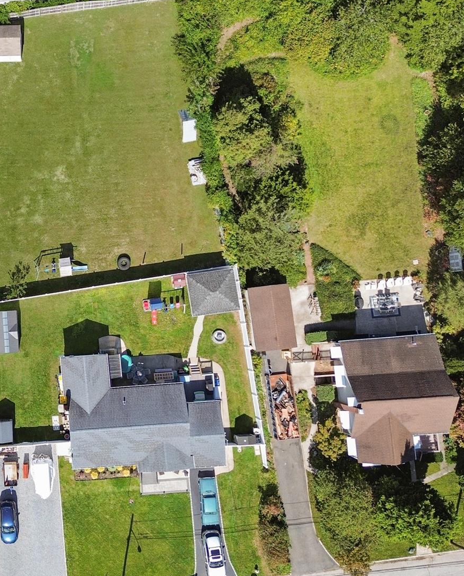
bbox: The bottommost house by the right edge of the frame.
[328,334,459,468]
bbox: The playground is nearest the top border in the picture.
[37,256,88,278]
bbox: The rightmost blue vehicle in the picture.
[198,474,221,525]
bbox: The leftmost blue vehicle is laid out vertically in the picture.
[0,498,19,542]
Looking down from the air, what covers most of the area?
grass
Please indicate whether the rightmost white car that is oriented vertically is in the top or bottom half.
bottom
